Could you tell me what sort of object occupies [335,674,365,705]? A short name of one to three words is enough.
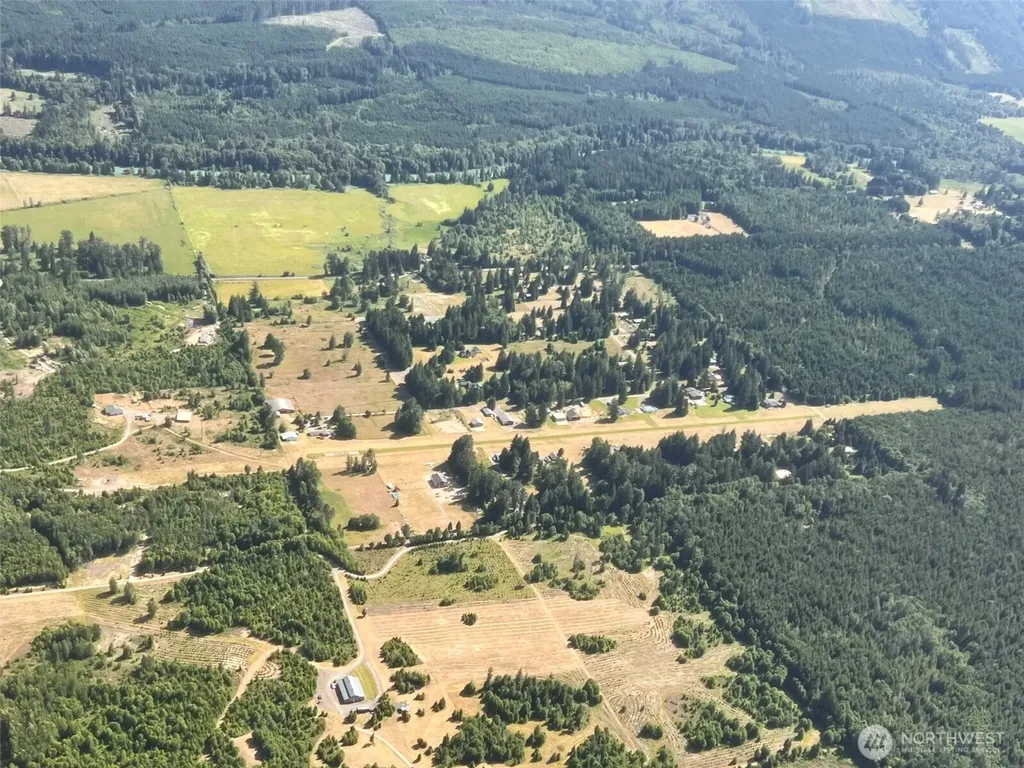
hangar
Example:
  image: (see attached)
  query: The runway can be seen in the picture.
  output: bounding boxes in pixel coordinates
[299,396,945,464]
